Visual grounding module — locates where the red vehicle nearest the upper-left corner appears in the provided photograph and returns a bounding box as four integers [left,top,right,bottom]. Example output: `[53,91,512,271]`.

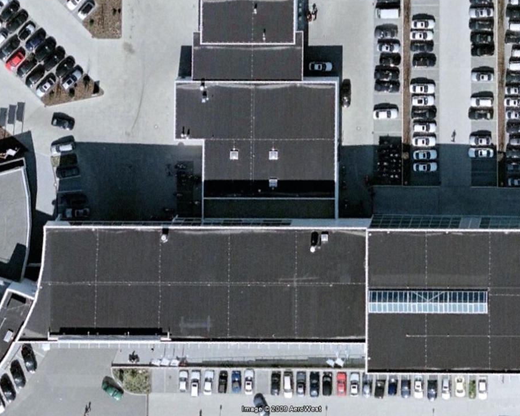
[5,51,25,70]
